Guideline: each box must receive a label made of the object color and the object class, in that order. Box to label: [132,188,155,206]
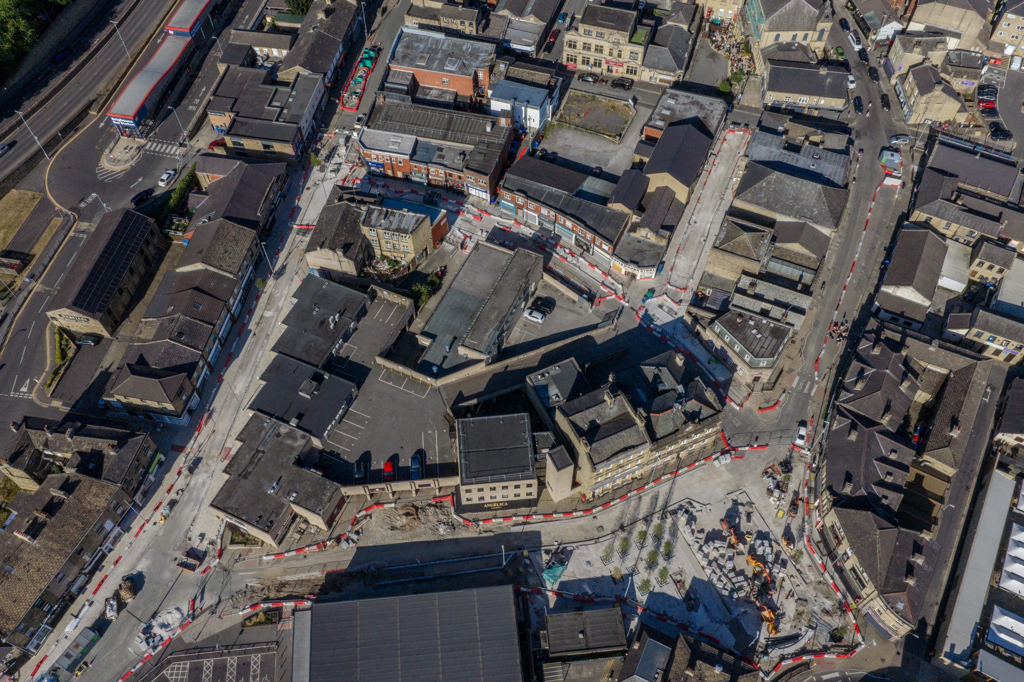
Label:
black car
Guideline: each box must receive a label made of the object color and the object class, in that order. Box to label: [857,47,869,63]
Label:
black vehicle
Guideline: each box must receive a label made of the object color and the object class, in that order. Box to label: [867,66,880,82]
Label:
black vehicle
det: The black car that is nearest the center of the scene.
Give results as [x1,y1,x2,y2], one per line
[531,294,556,314]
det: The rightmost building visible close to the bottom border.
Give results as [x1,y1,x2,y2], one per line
[928,467,1017,669]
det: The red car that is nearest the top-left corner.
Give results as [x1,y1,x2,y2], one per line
[208,135,227,149]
